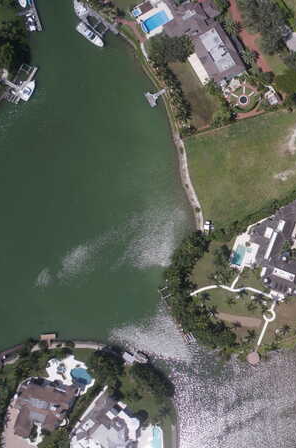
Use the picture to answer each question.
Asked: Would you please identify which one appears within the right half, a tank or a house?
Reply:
house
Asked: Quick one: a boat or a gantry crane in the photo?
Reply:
boat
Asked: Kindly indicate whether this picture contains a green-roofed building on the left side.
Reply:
No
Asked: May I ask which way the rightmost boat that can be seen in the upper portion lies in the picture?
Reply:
on a diagonal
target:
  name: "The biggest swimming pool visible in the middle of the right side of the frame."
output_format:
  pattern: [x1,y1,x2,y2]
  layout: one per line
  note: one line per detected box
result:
[230,246,248,267]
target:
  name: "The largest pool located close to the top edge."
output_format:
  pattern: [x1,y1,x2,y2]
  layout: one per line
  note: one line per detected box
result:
[143,9,171,32]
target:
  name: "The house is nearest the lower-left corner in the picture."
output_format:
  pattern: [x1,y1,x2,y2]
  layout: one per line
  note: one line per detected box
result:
[14,378,81,438]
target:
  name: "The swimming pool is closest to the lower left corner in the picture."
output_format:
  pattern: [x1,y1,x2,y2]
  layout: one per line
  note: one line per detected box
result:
[71,367,93,385]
